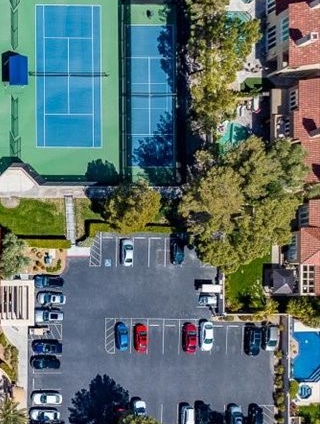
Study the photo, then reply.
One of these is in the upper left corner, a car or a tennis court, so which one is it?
tennis court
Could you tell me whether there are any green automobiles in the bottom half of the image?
No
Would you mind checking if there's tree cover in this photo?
Yes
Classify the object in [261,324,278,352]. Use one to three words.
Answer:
car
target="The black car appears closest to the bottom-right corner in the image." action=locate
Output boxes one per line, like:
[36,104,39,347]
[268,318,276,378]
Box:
[247,405,264,424]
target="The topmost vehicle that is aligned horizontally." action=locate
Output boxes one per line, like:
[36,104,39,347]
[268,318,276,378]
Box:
[33,275,63,289]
